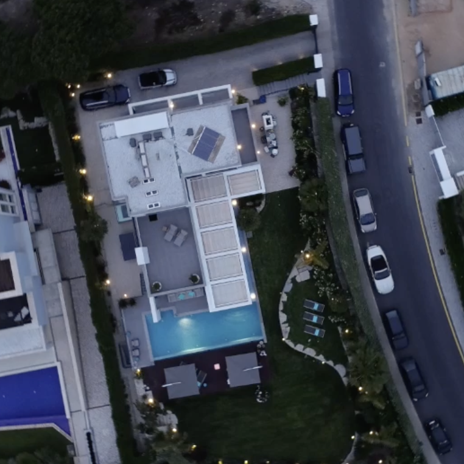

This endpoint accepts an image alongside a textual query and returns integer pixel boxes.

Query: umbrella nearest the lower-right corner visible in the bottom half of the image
[225,352,267,387]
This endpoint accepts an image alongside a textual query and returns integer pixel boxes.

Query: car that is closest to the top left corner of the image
[79,84,131,110]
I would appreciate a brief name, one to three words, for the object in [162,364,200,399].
umbrella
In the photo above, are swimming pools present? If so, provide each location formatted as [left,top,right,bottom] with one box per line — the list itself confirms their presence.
[141,221,269,365]
[0,362,73,441]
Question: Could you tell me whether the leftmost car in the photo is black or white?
black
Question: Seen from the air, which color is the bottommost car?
black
